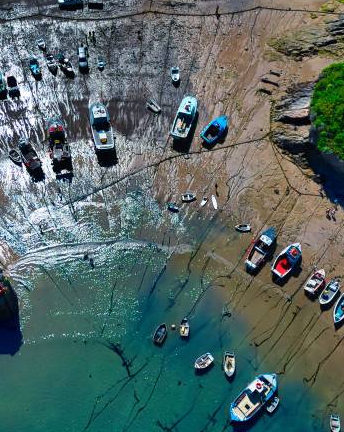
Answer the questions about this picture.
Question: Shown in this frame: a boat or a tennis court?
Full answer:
The image shows a boat.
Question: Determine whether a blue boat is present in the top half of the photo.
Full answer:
Yes, a blue boat appears in the top half of the photo.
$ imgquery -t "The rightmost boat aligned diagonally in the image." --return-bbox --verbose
[317,277,340,305]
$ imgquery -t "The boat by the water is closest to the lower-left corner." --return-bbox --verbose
[151,323,167,345]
